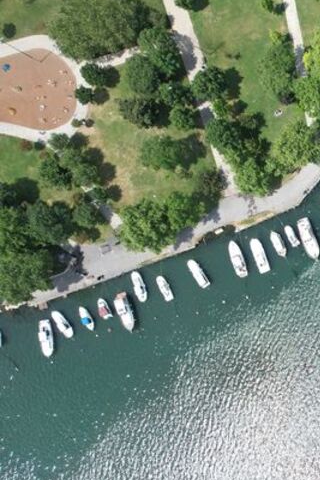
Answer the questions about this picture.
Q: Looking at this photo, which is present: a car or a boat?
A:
boat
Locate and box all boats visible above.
[229,235,251,281]
[114,280,136,334]
[270,231,286,257]
[246,229,271,275]
[130,271,149,304]
[285,226,301,248]
[188,250,211,290]
[98,295,114,321]
[38,316,54,358]
[154,270,175,302]
[78,308,95,331]
[296,203,320,261]
[52,307,75,339]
